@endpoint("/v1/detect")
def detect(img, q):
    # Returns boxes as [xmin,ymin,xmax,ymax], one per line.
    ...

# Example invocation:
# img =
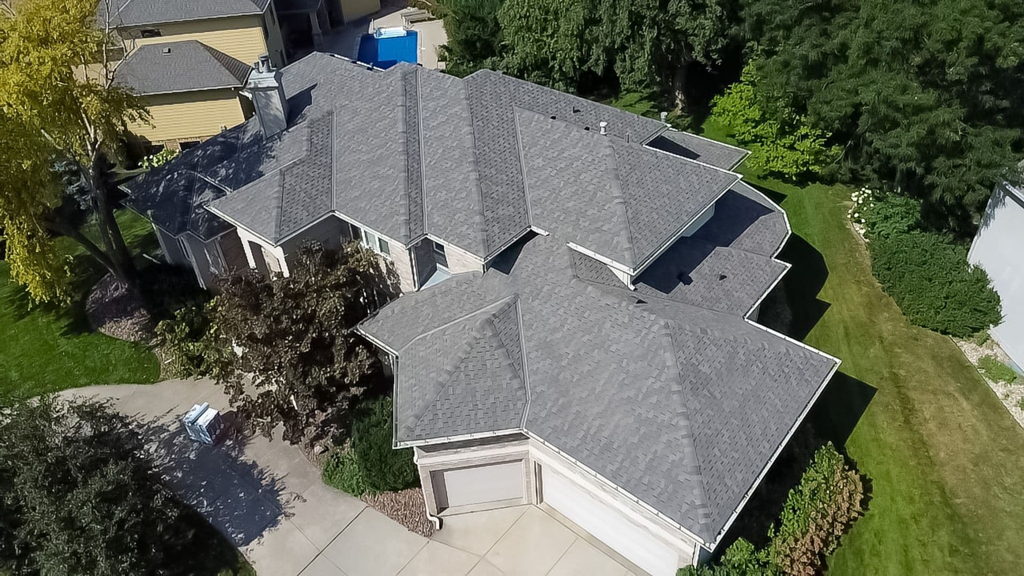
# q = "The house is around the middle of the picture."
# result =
[120,49,840,576]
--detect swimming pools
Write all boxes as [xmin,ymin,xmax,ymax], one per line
[348,26,425,64]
